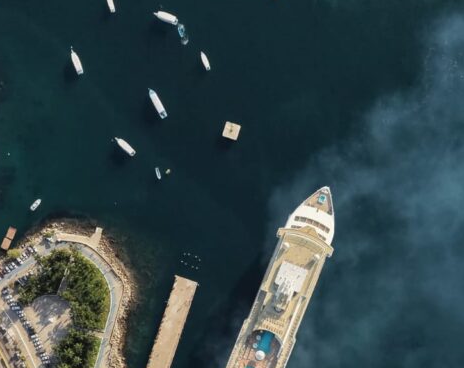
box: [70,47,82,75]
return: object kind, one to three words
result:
boat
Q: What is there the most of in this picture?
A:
water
